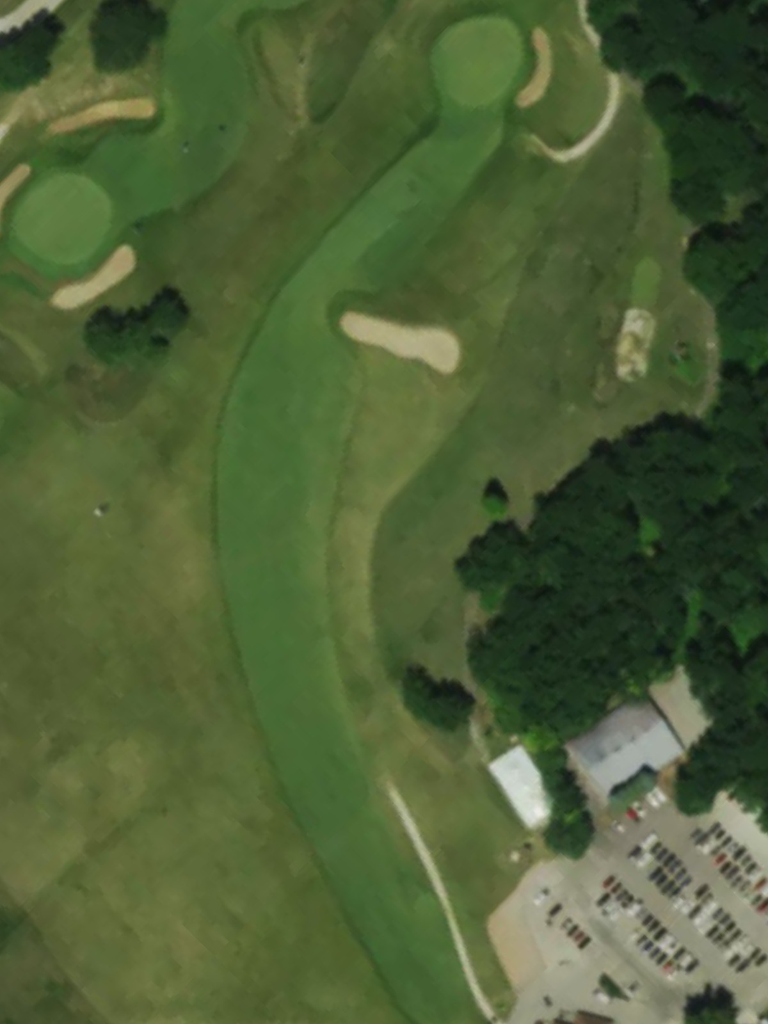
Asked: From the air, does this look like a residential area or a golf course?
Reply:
golf course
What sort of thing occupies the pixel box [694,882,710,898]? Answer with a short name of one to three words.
vehicle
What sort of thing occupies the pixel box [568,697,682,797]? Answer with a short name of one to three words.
building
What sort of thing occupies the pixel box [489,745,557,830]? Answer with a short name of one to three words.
tent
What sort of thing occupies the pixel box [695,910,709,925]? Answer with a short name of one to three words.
car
